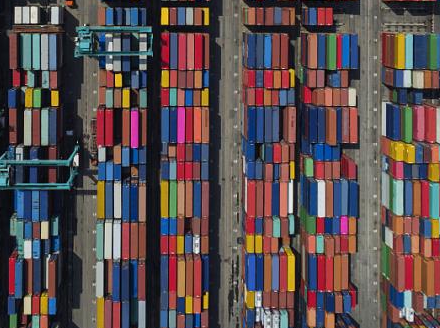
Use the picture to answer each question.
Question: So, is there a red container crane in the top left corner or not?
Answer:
No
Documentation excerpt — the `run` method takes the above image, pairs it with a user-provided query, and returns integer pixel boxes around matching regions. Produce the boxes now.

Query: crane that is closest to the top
[72,22,158,55]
